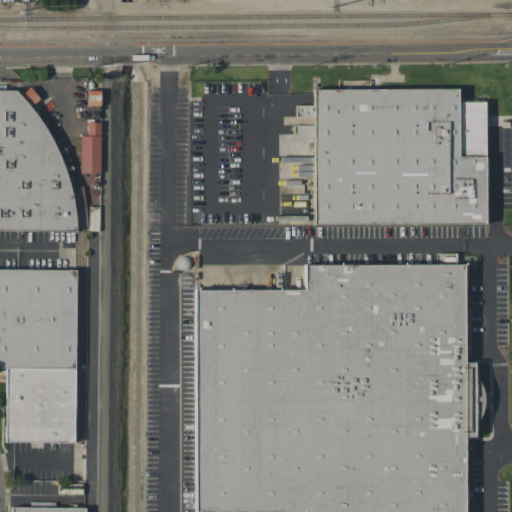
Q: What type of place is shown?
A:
industrial area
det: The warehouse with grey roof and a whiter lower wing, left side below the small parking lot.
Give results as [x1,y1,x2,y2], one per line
[0,270,78,442]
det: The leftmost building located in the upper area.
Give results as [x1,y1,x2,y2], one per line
[0,90,78,231]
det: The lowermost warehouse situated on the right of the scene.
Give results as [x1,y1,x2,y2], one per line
[194,265,487,512]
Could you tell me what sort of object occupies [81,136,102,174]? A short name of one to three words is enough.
building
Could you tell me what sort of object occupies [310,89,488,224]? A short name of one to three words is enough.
warehouse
